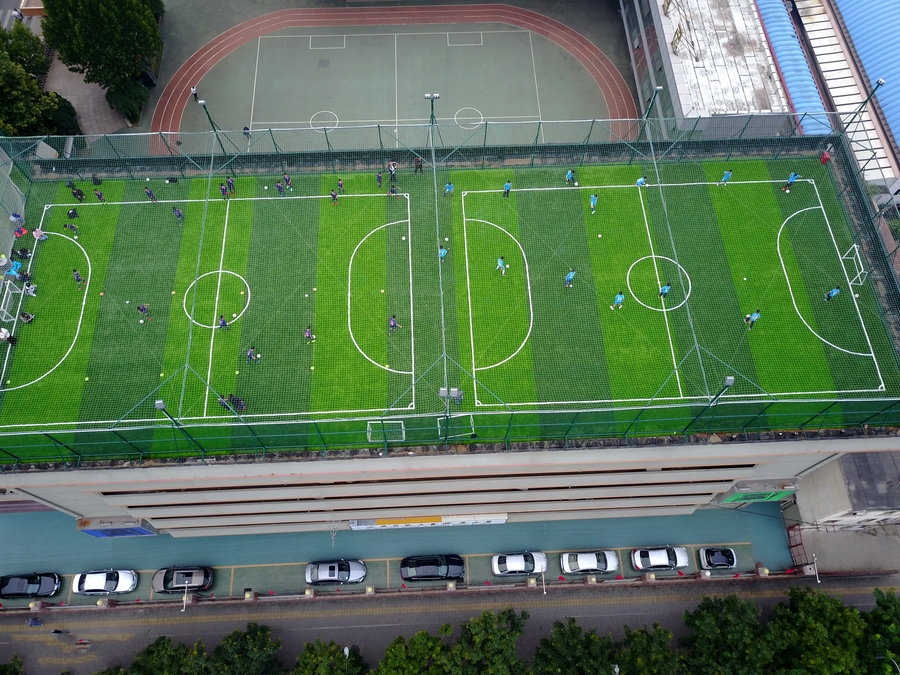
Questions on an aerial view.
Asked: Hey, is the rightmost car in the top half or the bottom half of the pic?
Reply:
bottom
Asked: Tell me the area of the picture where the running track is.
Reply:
top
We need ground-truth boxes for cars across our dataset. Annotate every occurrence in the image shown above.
[559,547,619,577]
[70,567,139,597]
[399,552,466,583]
[628,543,689,572]
[697,544,738,570]
[305,556,367,586]
[0,570,62,600]
[490,548,547,578]
[151,565,214,596]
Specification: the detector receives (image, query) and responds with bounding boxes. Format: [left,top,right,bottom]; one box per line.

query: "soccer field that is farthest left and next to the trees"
[0,192,416,426]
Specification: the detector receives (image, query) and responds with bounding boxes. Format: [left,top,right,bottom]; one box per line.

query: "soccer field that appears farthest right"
[461,179,885,407]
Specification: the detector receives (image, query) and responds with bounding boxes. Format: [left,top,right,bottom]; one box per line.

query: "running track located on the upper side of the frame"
[147,3,640,157]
